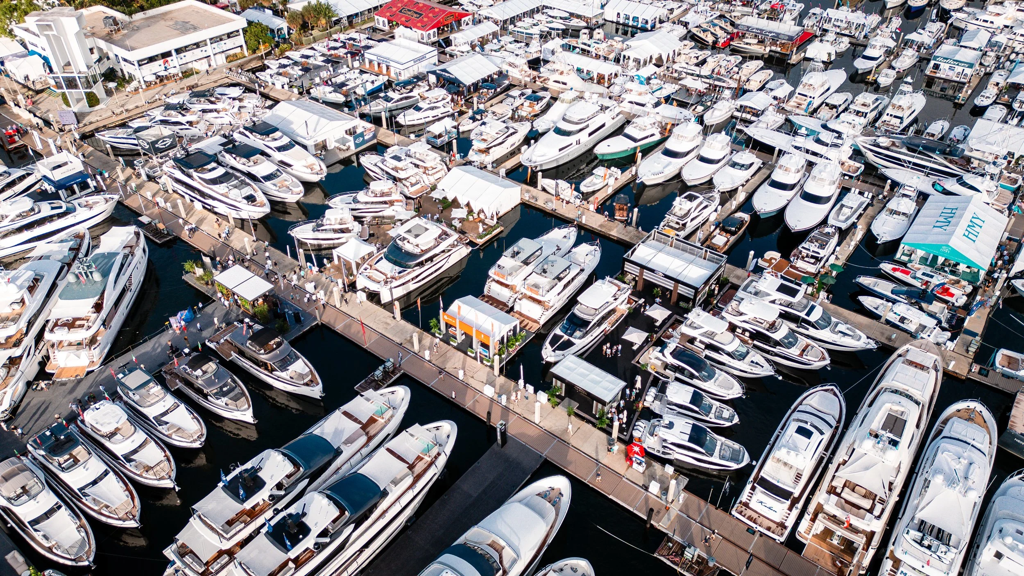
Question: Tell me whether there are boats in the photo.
Yes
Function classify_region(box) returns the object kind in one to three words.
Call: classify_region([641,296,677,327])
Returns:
umbrella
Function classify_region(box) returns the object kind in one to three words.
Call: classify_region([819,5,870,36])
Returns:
tent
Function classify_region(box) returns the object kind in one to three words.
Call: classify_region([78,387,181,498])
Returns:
boat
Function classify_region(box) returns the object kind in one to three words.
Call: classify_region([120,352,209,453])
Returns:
boat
